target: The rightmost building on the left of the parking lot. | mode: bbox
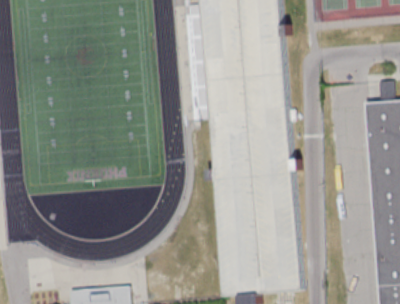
[198,0,306,304]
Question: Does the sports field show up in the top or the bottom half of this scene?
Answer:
top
